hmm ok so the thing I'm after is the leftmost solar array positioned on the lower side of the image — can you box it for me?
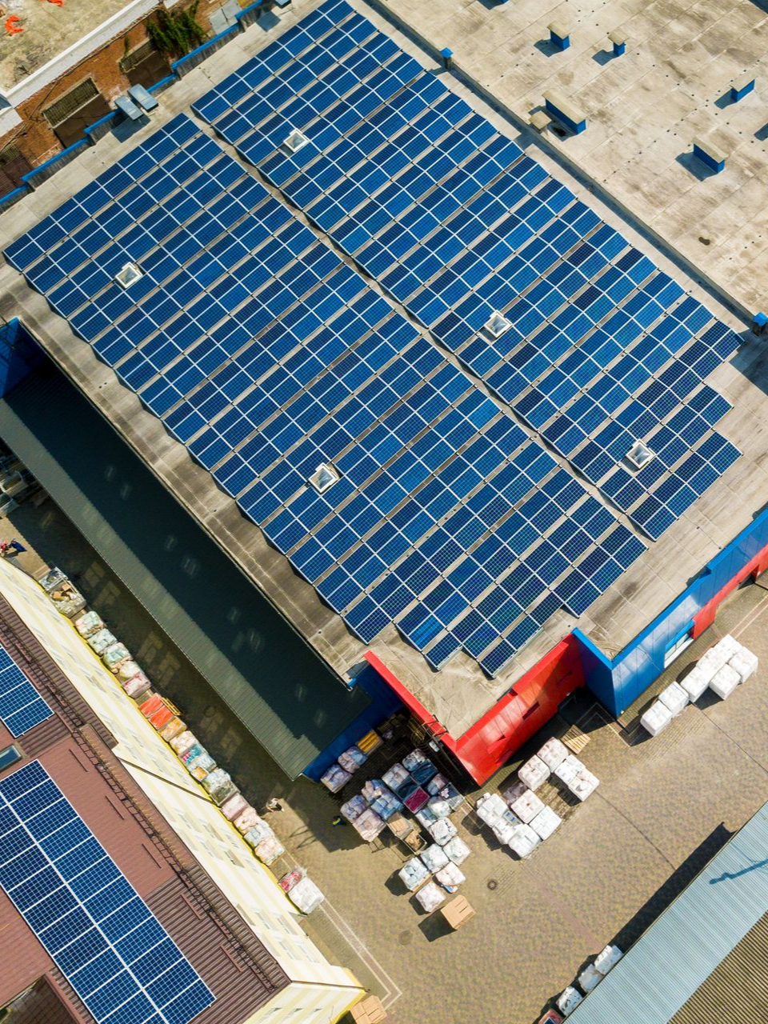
[0,640,52,736]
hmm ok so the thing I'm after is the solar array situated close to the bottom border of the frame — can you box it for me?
[0,759,212,1024]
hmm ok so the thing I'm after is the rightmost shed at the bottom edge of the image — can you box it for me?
[560,797,768,1024]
